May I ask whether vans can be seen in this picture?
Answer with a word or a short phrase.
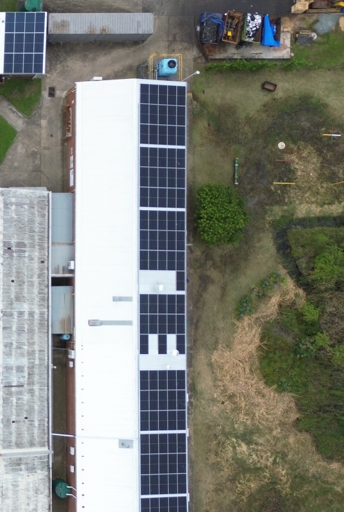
No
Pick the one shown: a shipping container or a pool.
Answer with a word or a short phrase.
shipping container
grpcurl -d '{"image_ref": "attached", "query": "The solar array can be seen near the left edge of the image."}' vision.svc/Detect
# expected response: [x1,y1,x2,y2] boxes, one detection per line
[4,12,45,73]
